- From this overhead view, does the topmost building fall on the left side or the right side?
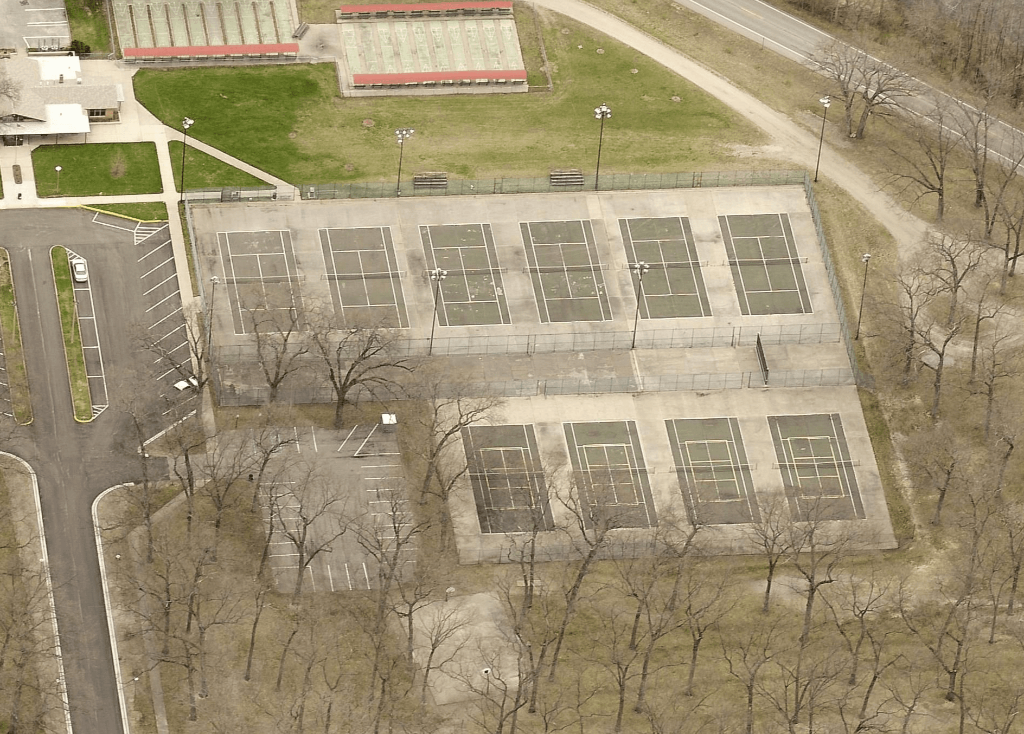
left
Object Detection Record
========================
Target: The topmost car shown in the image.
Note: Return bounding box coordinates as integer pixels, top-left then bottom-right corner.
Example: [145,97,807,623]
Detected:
[72,262,87,284]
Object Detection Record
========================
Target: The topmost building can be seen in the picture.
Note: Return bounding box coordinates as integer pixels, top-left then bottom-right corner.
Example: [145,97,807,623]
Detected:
[0,43,125,148]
